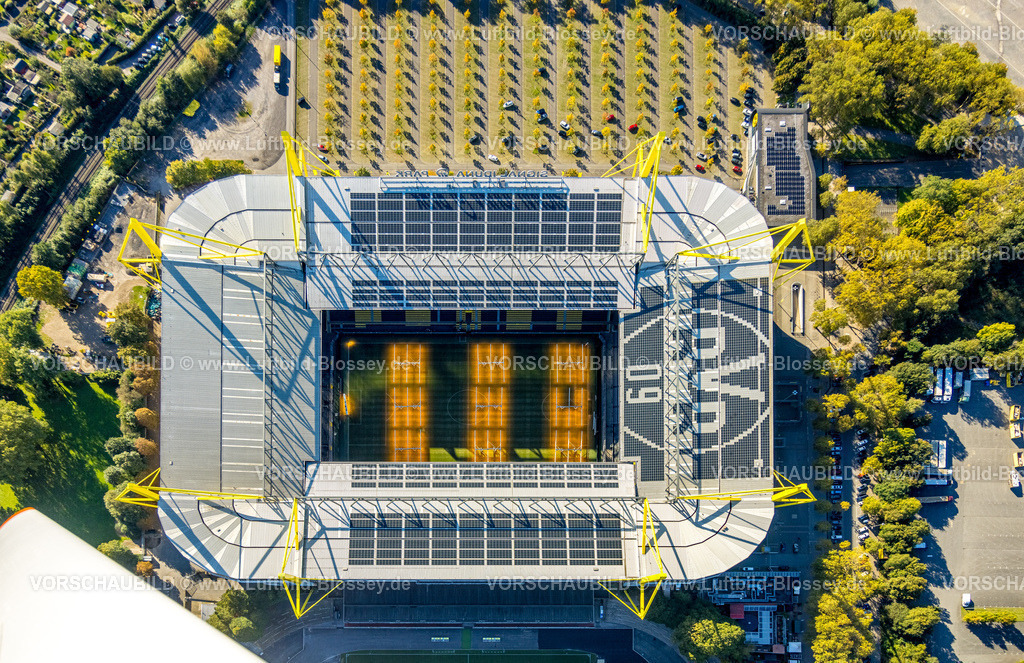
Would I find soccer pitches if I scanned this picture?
Yes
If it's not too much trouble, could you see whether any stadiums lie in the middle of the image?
Yes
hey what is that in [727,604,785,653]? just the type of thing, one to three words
building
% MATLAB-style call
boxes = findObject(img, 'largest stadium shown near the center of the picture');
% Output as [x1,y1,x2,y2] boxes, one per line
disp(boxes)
[115,130,818,618]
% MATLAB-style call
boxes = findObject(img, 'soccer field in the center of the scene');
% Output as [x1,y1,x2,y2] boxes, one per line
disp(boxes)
[343,338,593,462]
